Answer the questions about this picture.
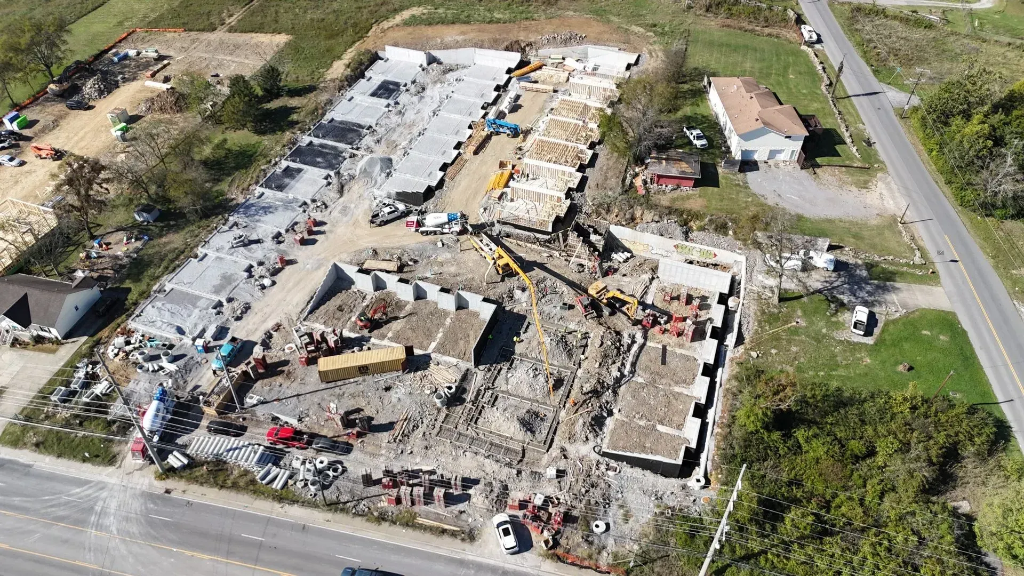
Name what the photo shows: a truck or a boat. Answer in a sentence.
Visible in the photo is a truck.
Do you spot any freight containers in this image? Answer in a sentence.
Yes, the frame does contain a freight container.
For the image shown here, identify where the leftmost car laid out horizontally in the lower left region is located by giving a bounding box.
[204,414,245,434]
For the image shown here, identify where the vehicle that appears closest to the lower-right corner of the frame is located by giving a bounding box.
[849,303,873,333]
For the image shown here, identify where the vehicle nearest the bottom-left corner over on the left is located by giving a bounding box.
[124,379,171,455]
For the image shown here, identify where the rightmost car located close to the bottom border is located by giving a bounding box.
[493,511,521,553]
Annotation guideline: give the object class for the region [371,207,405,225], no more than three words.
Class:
vehicle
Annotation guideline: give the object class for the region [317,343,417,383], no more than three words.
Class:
shipping container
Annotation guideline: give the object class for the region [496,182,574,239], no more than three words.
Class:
house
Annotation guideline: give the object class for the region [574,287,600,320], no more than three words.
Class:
work vehicle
